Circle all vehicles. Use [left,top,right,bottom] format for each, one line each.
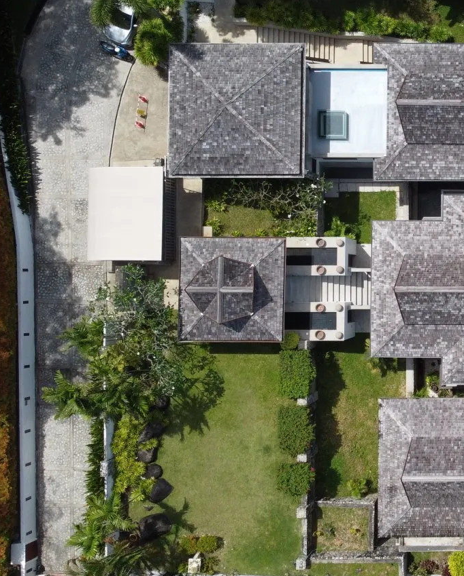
[98,41,130,59]
[107,0,156,44]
